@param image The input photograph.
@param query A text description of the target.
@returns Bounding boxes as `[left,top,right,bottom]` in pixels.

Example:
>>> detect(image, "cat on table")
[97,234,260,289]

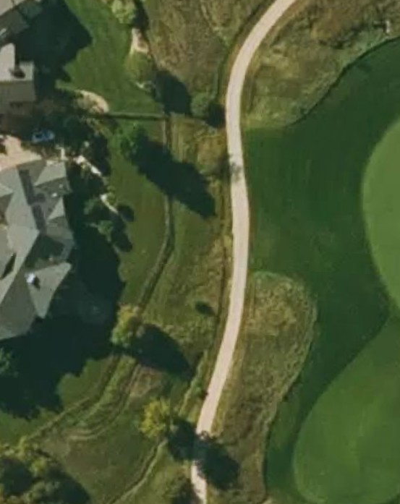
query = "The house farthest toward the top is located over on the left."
[0,0,45,44]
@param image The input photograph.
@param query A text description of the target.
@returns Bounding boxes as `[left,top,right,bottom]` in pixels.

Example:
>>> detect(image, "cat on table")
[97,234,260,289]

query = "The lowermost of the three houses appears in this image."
[0,155,77,336]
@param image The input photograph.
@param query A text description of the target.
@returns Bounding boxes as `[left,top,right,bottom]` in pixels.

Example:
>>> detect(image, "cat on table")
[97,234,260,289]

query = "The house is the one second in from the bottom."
[0,44,35,116]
